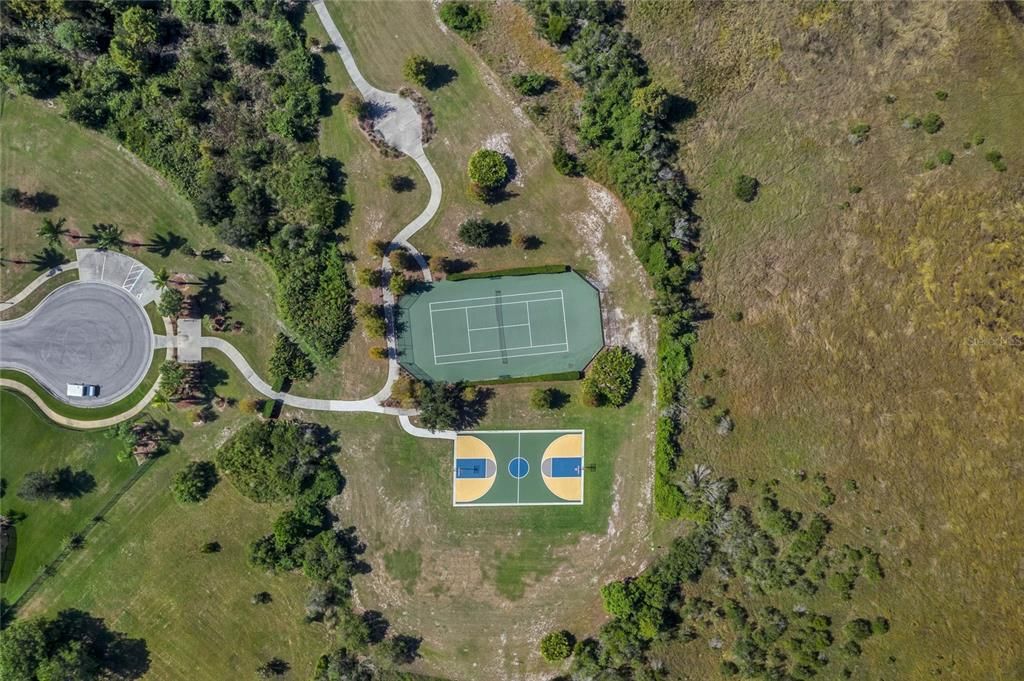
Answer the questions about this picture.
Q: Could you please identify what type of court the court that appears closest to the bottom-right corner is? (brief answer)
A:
basketball court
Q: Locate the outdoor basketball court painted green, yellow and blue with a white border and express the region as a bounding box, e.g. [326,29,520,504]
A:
[453,430,584,506]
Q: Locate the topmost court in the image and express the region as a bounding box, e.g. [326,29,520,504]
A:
[399,270,604,385]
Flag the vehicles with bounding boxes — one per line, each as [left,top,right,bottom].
[67,384,99,398]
